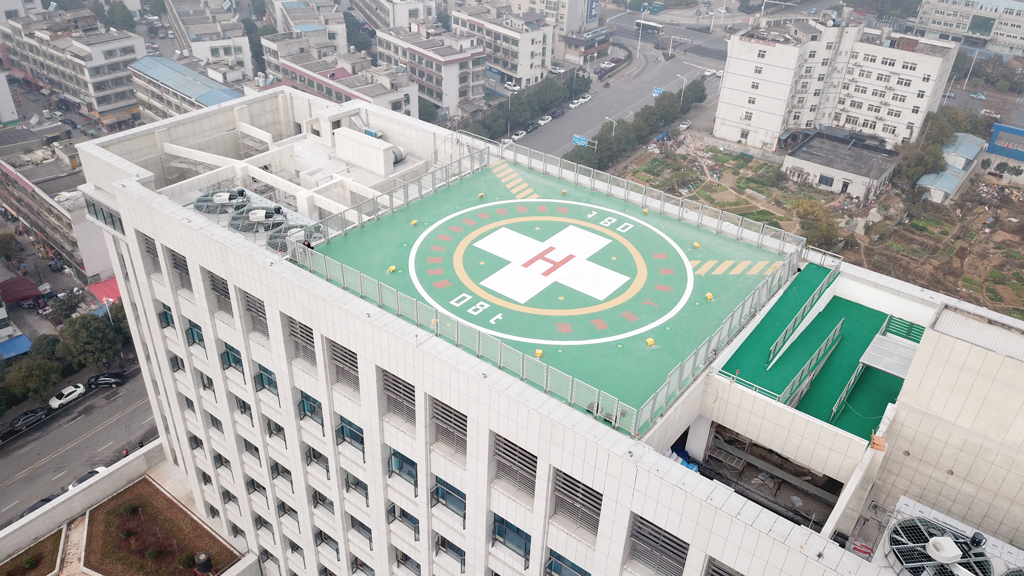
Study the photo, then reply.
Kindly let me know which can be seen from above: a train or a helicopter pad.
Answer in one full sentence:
This aerial view contains a helicopter pad.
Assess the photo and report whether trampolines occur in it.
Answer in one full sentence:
No, no trampoline can be seen from above.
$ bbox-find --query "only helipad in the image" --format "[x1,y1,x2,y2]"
[289,160,800,440]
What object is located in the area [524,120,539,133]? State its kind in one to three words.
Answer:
vehicle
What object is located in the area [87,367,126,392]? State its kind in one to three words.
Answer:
car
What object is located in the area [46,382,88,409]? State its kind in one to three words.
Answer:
car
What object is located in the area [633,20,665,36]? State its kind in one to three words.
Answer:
vehicle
